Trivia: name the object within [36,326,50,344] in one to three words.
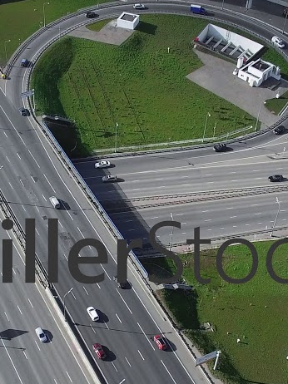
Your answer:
vehicle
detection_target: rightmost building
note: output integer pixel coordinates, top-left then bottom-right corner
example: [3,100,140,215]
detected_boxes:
[240,55,278,88]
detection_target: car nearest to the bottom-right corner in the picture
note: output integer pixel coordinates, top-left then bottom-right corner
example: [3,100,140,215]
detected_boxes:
[153,333,169,352]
